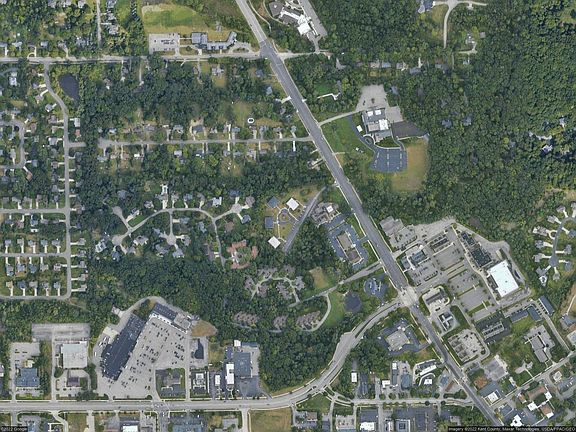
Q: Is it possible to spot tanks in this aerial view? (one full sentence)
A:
No, this view has no tank in it.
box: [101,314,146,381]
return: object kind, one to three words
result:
building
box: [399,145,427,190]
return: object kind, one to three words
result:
sports field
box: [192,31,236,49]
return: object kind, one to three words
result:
building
